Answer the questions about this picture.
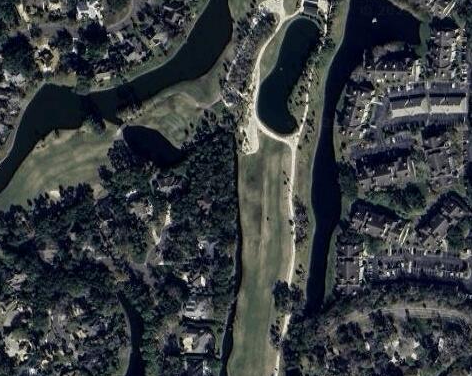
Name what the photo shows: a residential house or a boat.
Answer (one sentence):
Of the two, only a residential house appears.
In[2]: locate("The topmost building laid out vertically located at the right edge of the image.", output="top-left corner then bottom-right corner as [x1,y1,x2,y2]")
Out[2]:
[429,28,455,82]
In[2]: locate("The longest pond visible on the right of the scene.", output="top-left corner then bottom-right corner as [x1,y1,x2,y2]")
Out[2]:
[258,19,318,134]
